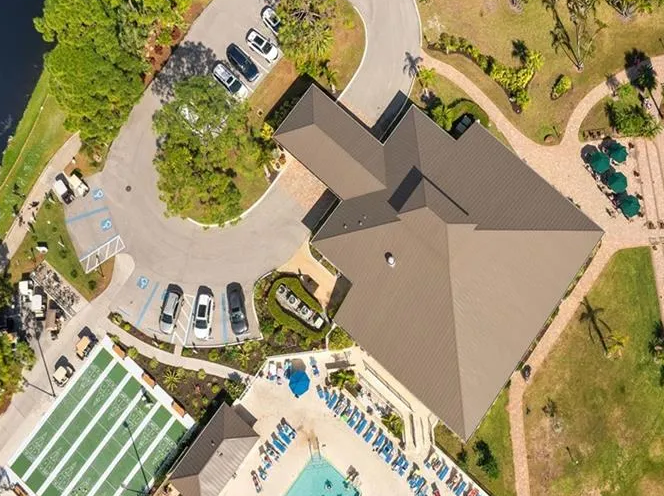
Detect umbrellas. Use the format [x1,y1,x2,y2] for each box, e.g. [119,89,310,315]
[608,171,628,193]
[289,370,310,395]
[609,142,629,165]
[620,194,640,217]
[590,151,610,174]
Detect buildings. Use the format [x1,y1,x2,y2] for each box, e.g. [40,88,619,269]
[273,83,603,442]
[169,402,259,496]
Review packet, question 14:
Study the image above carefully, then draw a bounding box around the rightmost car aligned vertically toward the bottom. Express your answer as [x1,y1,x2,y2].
[226,285,248,332]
